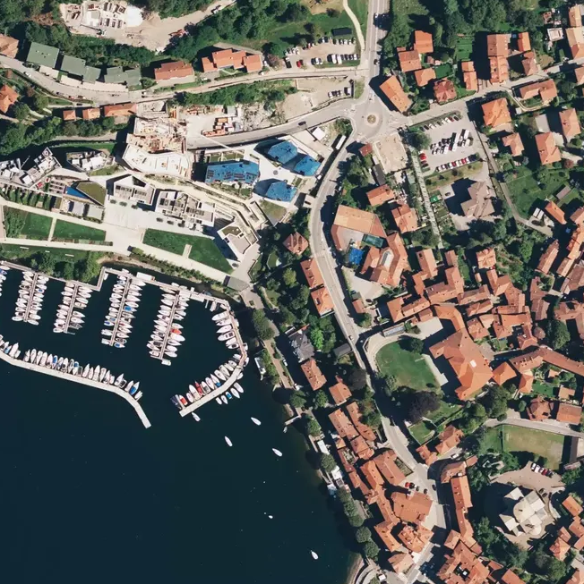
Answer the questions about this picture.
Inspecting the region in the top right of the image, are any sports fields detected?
No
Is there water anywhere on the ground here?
Yes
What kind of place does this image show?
residential area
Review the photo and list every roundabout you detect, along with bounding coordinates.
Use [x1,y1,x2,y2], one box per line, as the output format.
[351,99,392,138]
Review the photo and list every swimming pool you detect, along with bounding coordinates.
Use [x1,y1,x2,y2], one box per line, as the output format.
[67,187,87,198]
[363,236,383,247]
